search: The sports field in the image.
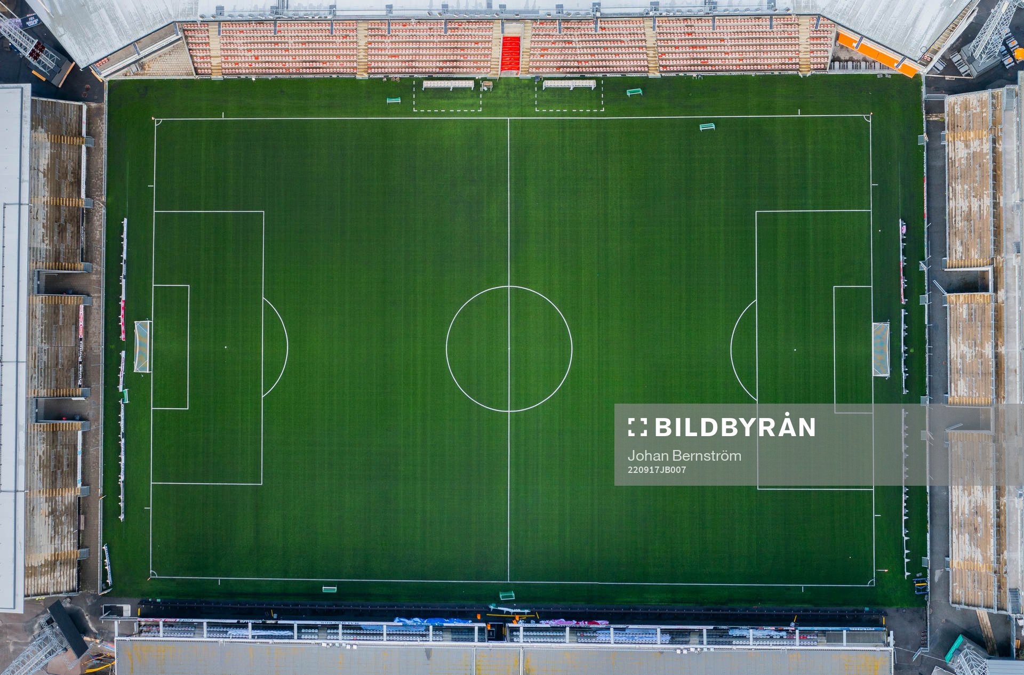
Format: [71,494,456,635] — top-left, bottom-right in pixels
[102,73,929,608]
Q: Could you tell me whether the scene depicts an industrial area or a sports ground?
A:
sports ground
